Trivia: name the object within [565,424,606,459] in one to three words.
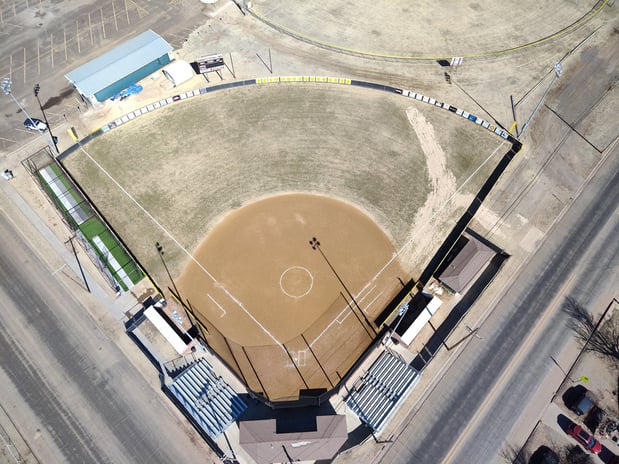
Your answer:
car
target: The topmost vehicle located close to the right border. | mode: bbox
[568,385,604,417]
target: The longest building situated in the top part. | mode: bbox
[64,30,177,111]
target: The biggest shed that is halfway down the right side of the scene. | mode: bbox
[436,240,496,297]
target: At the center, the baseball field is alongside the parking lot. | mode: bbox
[59,81,519,406]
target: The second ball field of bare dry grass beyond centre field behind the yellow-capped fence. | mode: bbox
[243,0,610,60]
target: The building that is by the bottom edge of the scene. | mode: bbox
[239,416,348,464]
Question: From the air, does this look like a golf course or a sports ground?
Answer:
sports ground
